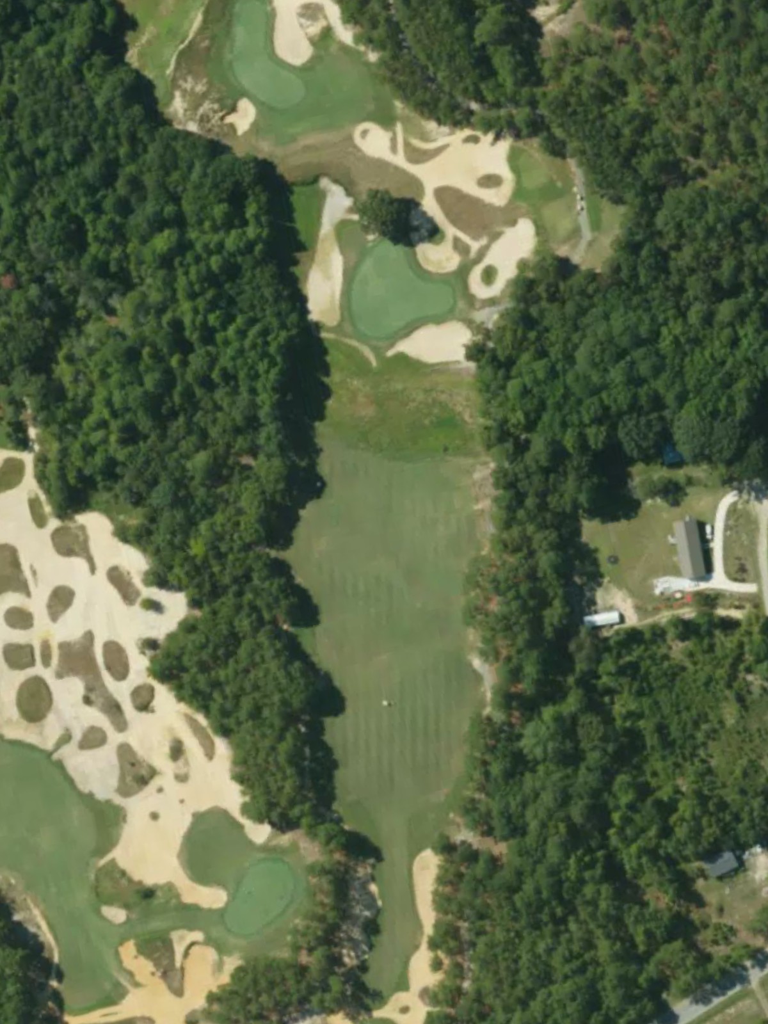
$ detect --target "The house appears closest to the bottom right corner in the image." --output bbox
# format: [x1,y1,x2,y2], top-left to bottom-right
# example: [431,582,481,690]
[708,851,739,879]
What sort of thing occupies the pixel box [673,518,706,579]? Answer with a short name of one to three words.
house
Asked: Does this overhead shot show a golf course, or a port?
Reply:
golf course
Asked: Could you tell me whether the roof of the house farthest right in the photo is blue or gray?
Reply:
gray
